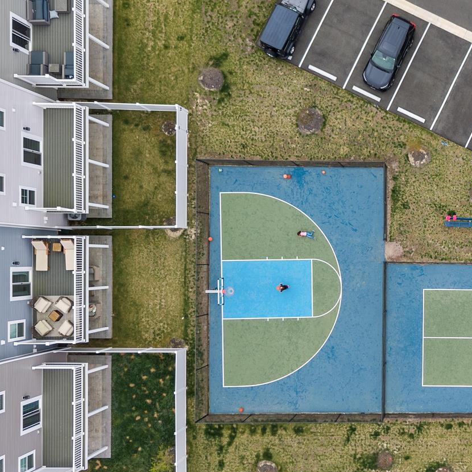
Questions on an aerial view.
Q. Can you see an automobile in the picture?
Yes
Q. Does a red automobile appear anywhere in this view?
No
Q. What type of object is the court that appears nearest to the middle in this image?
basketball court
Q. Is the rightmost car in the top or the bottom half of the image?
top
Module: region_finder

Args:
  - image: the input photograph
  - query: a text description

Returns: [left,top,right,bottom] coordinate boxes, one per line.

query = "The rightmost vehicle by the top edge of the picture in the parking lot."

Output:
[364,13,417,91]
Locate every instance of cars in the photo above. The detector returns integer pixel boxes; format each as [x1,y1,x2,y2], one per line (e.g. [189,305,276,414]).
[257,0,315,59]
[364,13,417,91]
